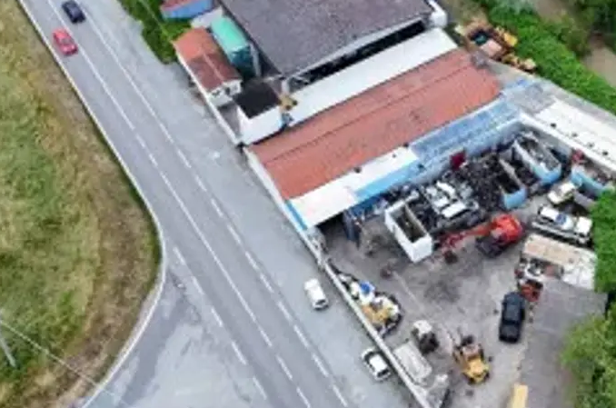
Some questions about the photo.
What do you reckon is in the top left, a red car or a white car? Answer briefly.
red car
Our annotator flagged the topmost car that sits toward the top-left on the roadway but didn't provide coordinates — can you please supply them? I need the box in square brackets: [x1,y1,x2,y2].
[61,0,86,26]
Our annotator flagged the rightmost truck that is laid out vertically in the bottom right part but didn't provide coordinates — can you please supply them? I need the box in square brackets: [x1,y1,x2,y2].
[500,294,522,343]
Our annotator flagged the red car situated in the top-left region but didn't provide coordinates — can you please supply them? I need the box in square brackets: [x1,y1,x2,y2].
[51,30,77,58]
